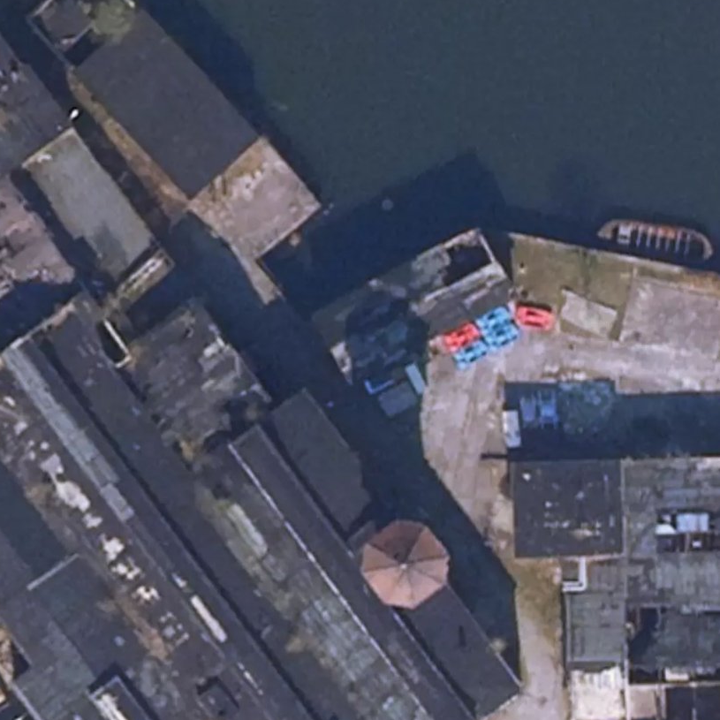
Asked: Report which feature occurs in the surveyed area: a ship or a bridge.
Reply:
ship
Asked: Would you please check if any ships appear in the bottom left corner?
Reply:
No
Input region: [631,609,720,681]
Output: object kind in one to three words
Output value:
building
